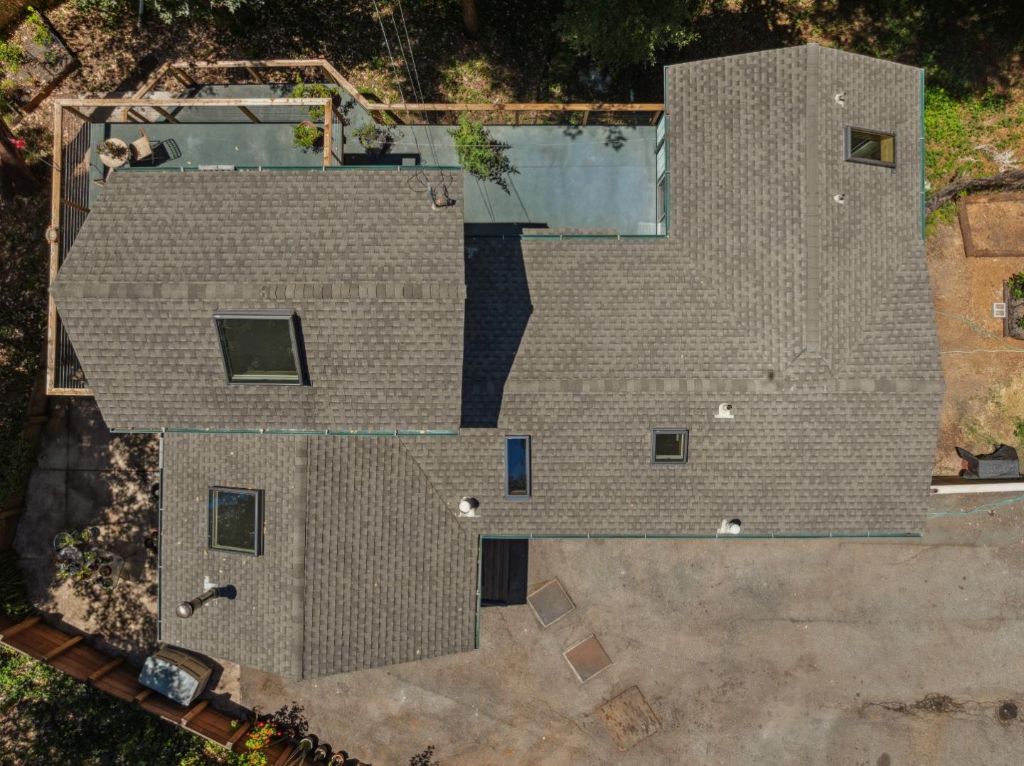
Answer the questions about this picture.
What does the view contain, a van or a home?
home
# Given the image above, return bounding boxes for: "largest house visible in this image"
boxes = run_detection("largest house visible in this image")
[52,42,950,678]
